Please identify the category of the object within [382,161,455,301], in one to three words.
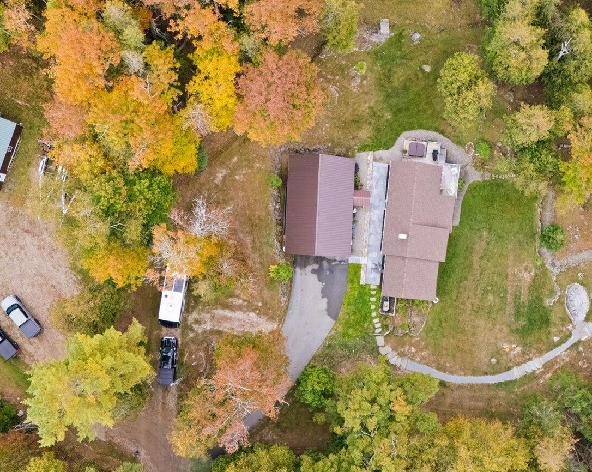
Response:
house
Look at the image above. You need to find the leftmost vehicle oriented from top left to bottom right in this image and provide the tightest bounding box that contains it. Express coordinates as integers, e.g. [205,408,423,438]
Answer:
[0,293,39,341]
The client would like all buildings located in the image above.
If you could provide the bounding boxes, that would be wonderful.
[0,118,24,190]
[285,153,355,257]
[382,161,455,301]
